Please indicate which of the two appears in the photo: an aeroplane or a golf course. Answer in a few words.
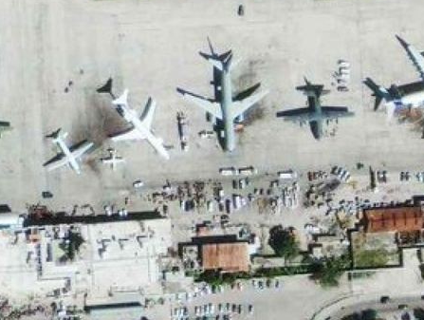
aeroplane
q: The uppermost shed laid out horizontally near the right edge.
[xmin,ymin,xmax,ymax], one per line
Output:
[361,206,424,233]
